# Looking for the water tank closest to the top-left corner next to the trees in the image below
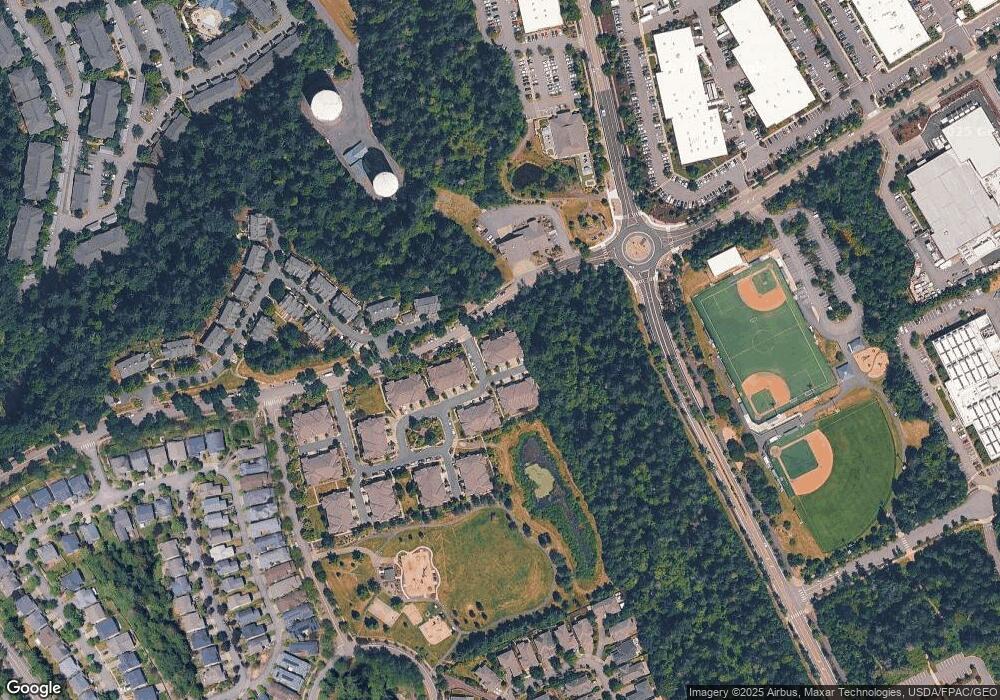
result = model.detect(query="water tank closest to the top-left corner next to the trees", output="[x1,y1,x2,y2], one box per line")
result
[310,89,343,121]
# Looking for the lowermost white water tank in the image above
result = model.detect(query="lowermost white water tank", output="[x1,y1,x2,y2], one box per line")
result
[372,171,399,197]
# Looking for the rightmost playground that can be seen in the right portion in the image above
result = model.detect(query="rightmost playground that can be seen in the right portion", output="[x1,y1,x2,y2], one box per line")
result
[854,347,889,378]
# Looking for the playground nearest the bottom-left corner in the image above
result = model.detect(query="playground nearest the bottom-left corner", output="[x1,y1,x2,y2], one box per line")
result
[397,547,440,599]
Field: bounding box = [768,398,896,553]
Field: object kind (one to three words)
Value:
baseball field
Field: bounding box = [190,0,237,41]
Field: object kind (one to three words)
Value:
swimming pool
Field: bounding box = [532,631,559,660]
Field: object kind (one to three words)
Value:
house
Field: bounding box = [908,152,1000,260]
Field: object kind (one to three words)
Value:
building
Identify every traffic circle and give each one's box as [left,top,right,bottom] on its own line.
[611,221,666,275]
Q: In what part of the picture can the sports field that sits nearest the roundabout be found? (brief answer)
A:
right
